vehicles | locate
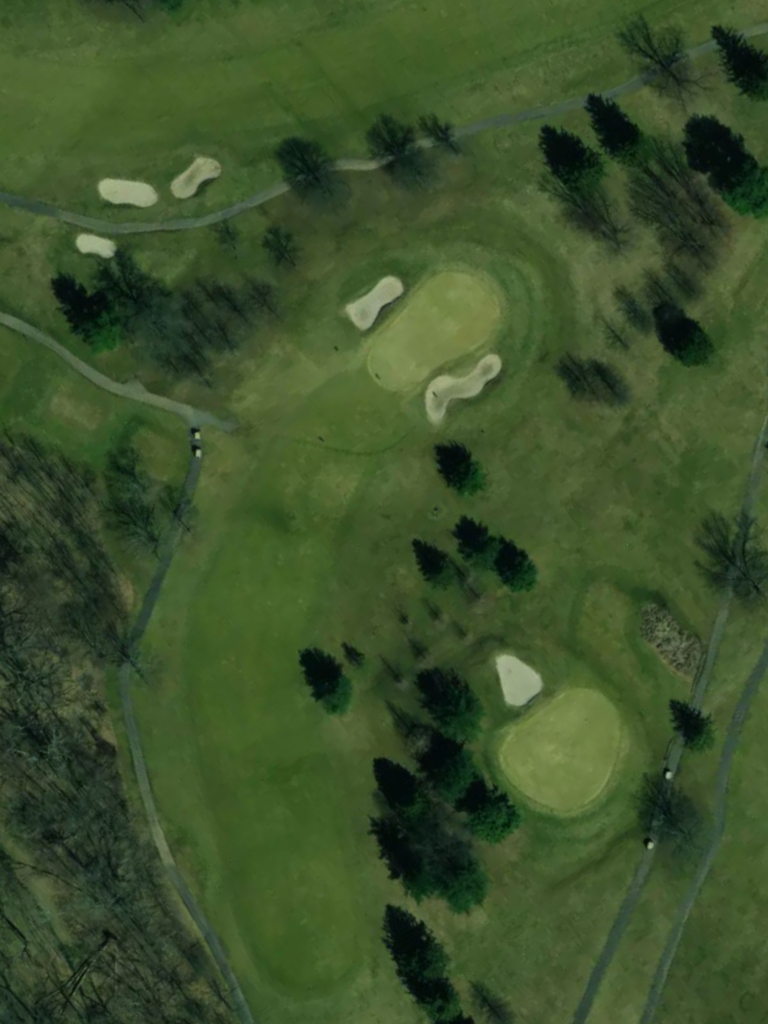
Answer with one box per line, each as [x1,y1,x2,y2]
[194,430,200,441]
[195,447,201,458]
[664,769,673,781]
[646,839,654,851]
